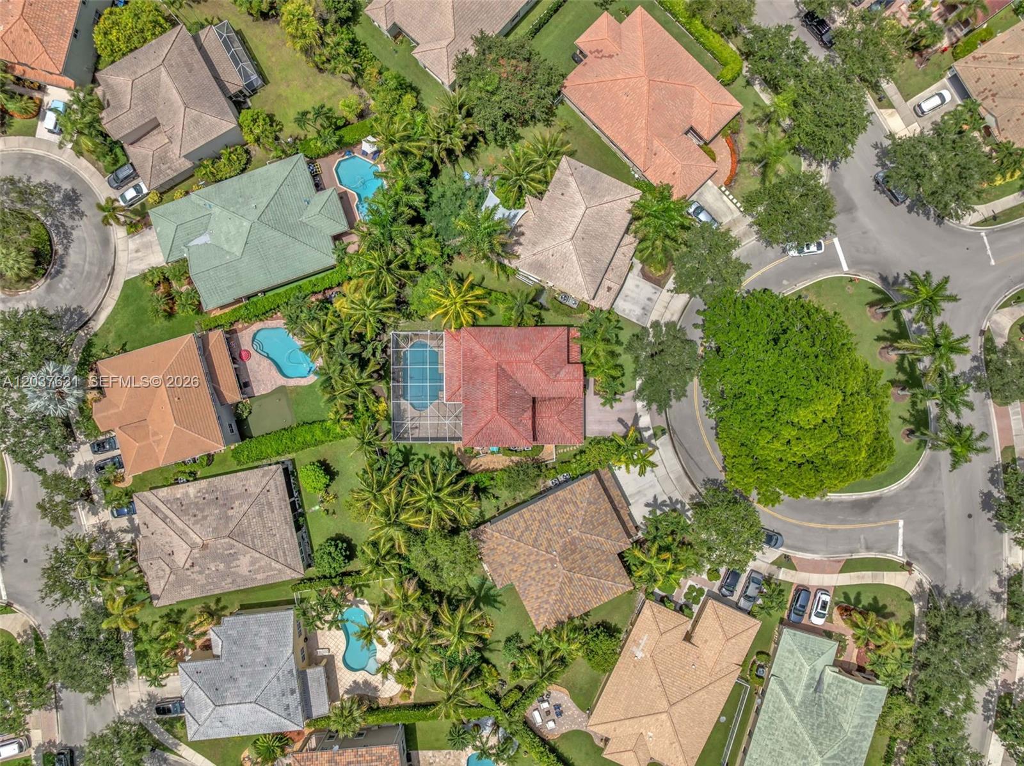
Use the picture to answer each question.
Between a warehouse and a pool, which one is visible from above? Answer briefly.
pool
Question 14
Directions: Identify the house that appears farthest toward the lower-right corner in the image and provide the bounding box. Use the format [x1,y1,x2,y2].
[735,624,887,766]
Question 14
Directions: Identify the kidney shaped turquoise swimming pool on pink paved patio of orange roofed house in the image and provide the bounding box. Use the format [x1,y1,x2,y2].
[250,324,319,380]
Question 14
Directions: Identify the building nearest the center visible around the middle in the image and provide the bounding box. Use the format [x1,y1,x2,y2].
[445,326,584,447]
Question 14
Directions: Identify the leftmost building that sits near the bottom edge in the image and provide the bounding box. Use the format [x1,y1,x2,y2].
[179,603,331,741]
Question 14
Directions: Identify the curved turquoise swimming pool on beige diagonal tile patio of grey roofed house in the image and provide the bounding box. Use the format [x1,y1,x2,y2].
[338,605,381,677]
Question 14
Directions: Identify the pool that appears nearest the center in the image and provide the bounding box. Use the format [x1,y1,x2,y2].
[400,338,442,413]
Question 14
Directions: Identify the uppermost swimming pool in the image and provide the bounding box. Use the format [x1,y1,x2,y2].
[331,153,388,223]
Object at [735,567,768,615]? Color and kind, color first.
gray car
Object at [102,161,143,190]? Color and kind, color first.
gray car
